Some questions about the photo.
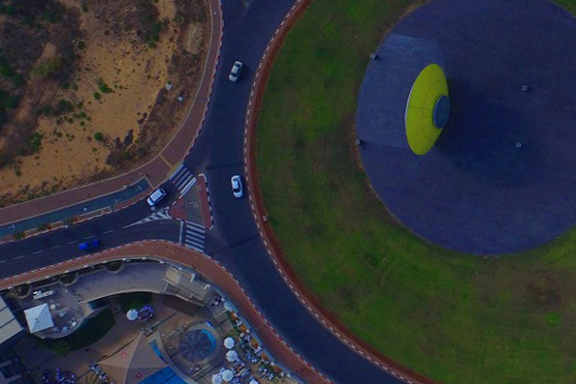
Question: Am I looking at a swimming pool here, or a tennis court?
swimming pool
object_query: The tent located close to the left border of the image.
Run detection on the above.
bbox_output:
[22,301,57,334]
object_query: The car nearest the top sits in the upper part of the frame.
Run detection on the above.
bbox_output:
[228,61,241,81]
